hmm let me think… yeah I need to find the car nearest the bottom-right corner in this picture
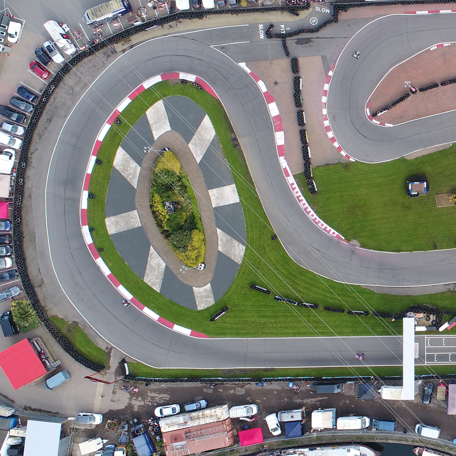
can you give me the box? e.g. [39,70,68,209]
[414,423,442,439]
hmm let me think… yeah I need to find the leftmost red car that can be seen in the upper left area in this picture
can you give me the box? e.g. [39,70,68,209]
[28,59,52,82]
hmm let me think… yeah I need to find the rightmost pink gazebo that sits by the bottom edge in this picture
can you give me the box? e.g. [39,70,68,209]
[239,425,268,446]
